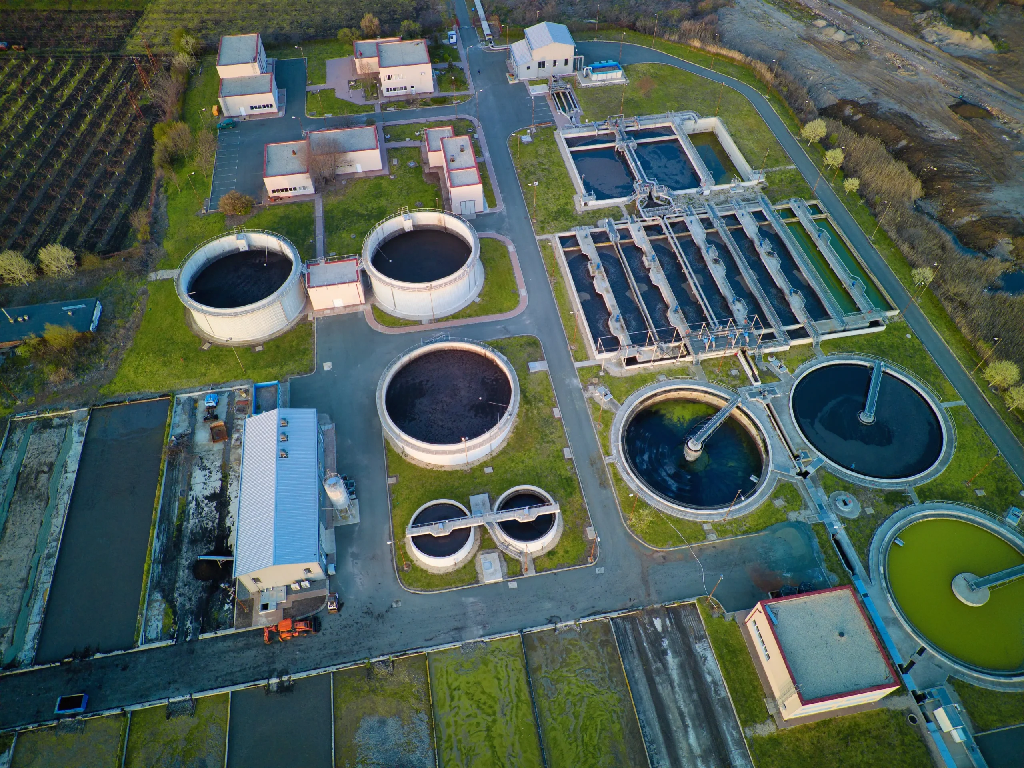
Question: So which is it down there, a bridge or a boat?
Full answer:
This aerial view contains a bridge.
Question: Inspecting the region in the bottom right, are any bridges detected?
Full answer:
Yes, a bridge is visible in the bottom right.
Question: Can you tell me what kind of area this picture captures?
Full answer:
This looks like an industrial area.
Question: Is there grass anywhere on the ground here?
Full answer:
Yes, grass shows up in the scene.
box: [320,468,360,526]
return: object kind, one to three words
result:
silo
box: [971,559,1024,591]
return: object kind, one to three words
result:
bridge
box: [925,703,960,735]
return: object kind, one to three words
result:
shed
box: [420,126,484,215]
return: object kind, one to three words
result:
building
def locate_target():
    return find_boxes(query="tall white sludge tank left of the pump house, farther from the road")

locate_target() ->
[172,222,311,344]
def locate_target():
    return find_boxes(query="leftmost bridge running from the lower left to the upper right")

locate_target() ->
[687,393,740,448]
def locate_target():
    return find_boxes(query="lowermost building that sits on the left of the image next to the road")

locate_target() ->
[193,405,326,591]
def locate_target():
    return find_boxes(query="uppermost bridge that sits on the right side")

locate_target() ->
[865,355,888,418]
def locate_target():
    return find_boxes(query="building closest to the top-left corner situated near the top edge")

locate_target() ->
[216,32,278,116]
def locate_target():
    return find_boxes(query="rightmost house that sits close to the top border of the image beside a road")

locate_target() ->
[509,20,584,79]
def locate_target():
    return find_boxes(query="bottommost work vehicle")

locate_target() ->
[266,619,319,655]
